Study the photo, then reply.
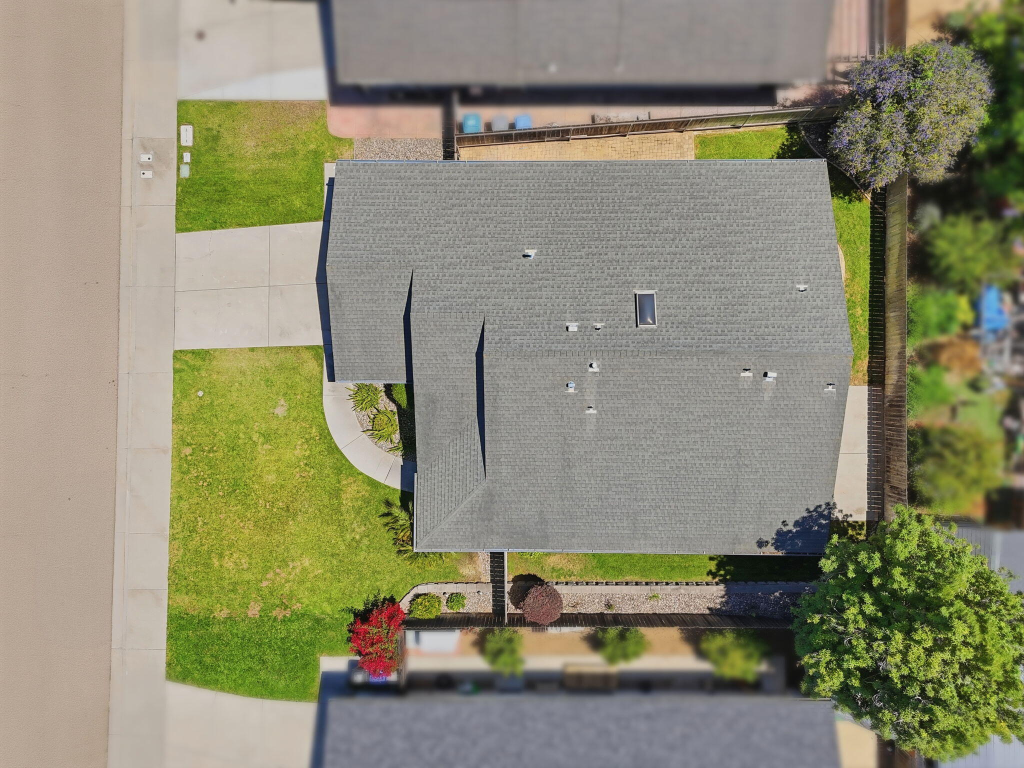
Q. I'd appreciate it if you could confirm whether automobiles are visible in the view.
No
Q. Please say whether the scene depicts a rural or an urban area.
urban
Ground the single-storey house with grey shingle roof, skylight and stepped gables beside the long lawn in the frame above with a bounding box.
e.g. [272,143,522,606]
[326,157,853,556]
